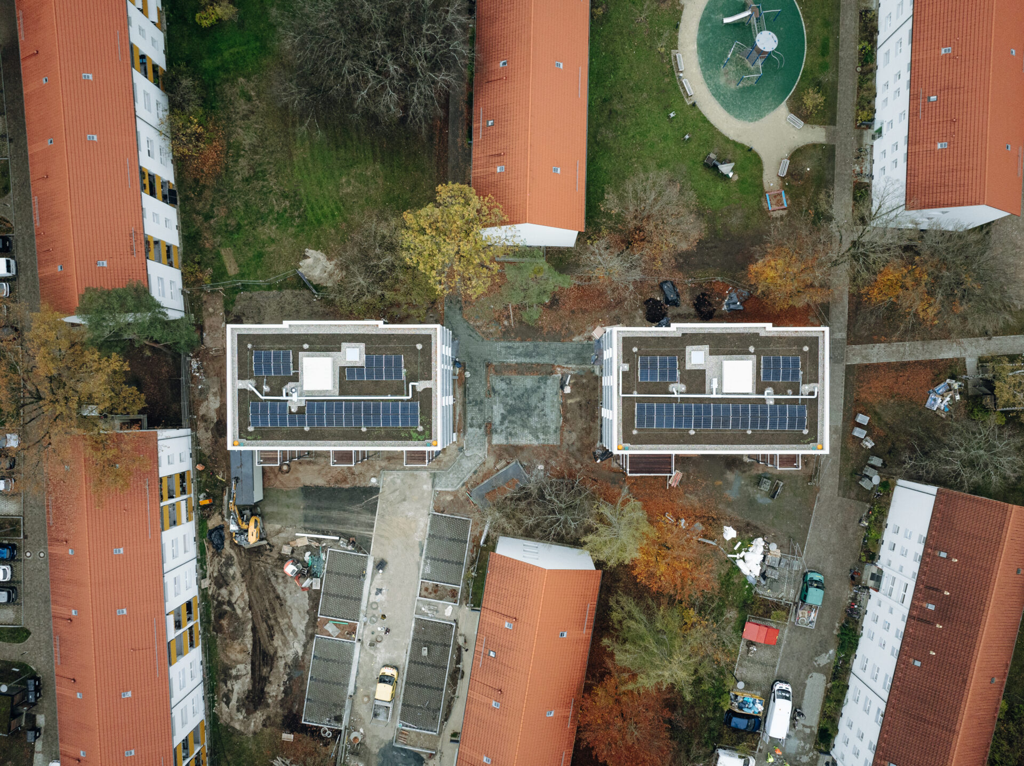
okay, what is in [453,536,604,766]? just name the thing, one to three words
house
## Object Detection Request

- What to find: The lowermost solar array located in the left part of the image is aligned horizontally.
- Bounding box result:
[249,402,420,426]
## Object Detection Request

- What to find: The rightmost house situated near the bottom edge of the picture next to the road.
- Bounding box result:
[827,480,1024,766]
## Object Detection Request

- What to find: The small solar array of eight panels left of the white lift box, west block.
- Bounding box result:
[252,351,293,375]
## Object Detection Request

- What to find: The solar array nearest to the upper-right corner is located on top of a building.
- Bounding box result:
[761,356,800,381]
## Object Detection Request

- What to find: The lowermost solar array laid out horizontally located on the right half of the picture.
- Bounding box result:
[635,404,807,429]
